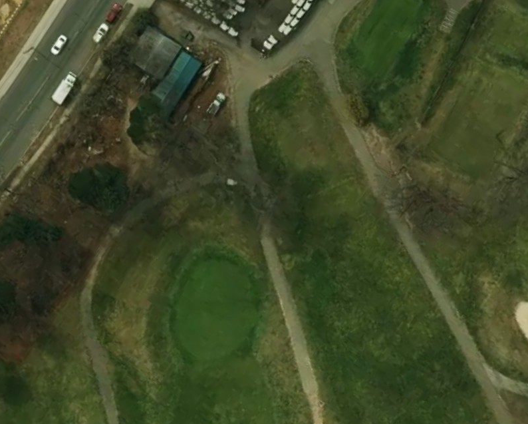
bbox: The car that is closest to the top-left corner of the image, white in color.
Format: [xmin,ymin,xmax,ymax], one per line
[52,34,68,56]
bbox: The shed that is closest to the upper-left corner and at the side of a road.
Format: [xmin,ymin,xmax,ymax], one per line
[131,26,183,79]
